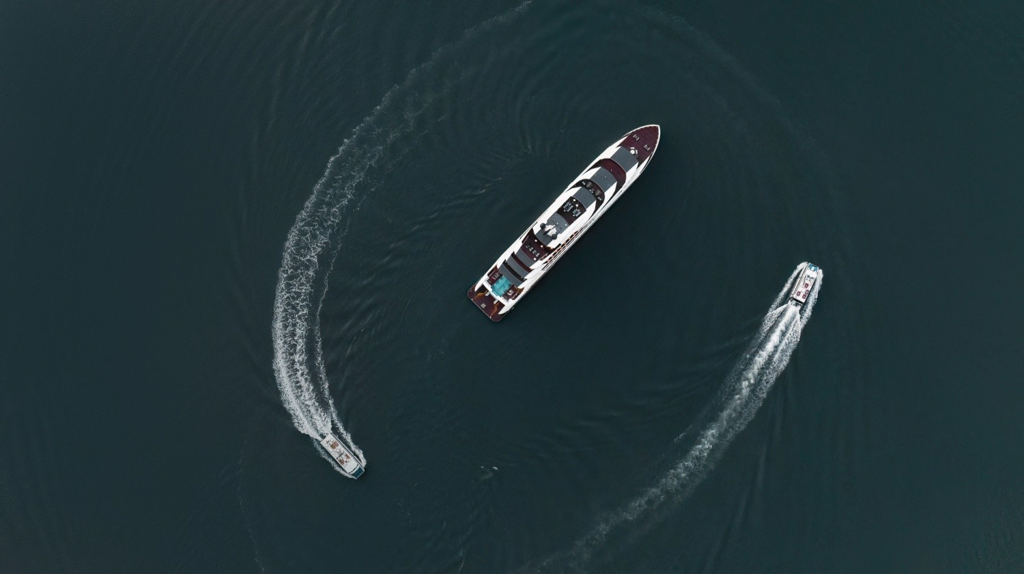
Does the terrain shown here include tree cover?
No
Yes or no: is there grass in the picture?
No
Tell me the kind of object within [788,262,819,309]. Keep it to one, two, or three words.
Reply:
boat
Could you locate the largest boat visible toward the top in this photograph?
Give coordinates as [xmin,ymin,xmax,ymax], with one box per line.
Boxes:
[468,124,661,322]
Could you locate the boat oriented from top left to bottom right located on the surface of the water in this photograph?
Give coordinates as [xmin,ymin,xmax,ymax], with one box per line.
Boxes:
[320,433,365,479]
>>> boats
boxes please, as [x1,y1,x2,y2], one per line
[468,124,661,322]
[788,262,819,309]
[320,433,365,479]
